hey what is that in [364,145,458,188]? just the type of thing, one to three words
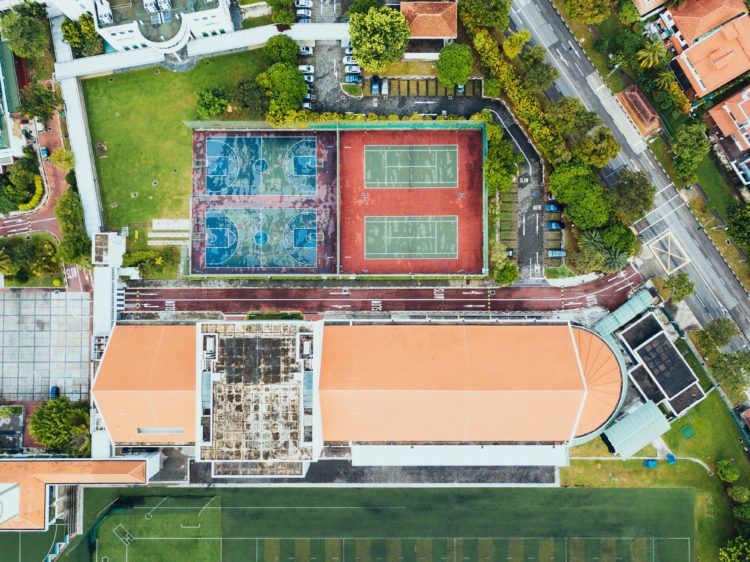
tennis court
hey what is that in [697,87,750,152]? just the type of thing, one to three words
house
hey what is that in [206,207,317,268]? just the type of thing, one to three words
basketball court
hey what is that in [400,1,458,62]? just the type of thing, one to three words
building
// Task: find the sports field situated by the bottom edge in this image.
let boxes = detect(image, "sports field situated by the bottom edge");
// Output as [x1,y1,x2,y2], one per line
[64,488,696,562]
